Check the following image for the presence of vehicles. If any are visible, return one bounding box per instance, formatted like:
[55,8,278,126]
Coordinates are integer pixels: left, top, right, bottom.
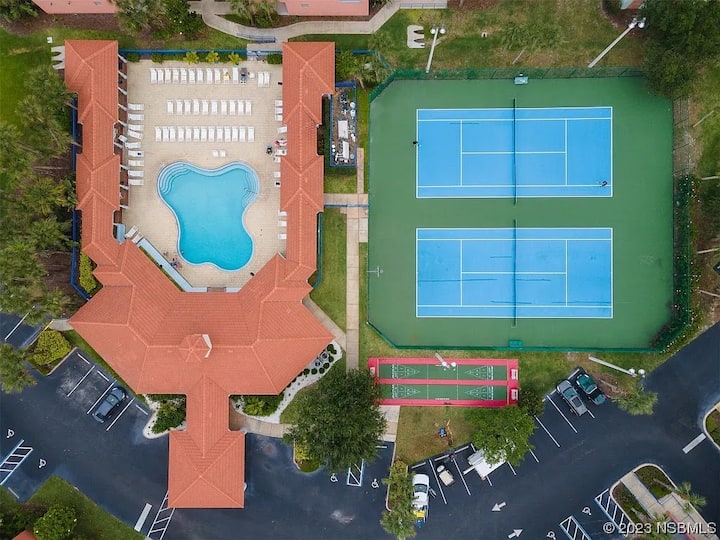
[556,380,592,420]
[575,369,609,407]
[412,475,436,526]
[436,464,455,490]
[90,388,124,424]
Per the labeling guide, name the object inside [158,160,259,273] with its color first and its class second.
blue swimming pool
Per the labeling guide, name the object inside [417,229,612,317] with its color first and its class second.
blue tennis court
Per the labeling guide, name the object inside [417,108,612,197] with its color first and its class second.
blue tennis court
